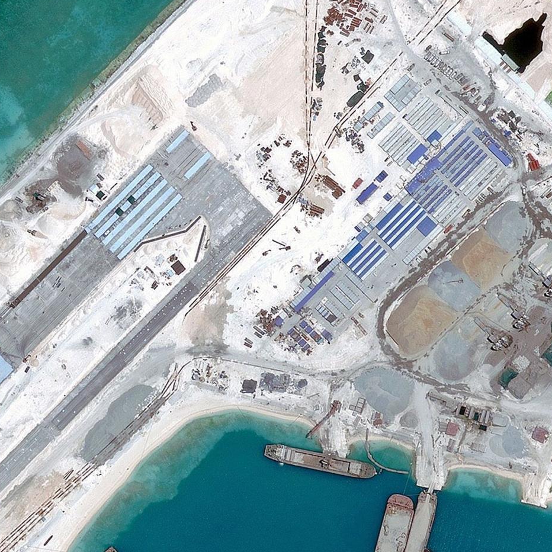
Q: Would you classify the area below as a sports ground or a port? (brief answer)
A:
port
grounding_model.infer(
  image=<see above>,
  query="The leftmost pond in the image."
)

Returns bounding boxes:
[482,13,547,72]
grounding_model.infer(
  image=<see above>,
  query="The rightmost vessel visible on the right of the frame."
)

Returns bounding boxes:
[406,482,437,552]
